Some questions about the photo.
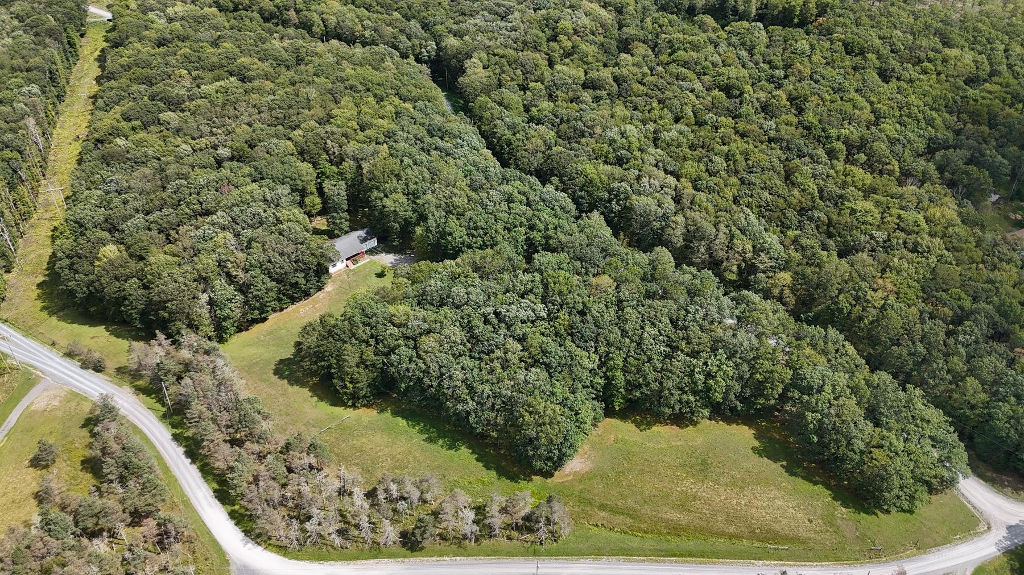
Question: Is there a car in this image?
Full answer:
No, the picture doesn't show any car.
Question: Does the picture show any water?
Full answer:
No, the picture contains no water.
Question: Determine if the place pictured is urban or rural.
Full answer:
The area shown here is rural.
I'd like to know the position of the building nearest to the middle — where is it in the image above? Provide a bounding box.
[326,227,379,273]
